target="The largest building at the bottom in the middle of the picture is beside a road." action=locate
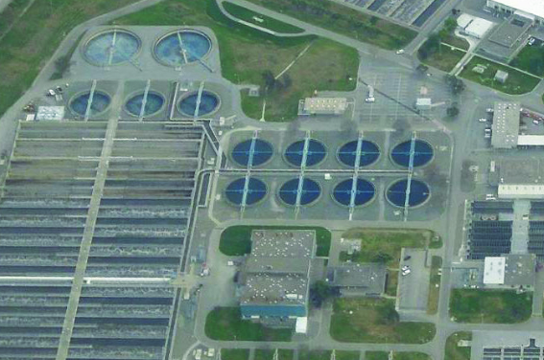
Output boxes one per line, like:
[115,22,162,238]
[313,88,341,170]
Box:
[233,231,317,330]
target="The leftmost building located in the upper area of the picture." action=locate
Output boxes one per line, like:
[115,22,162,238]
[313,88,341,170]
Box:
[303,98,348,115]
